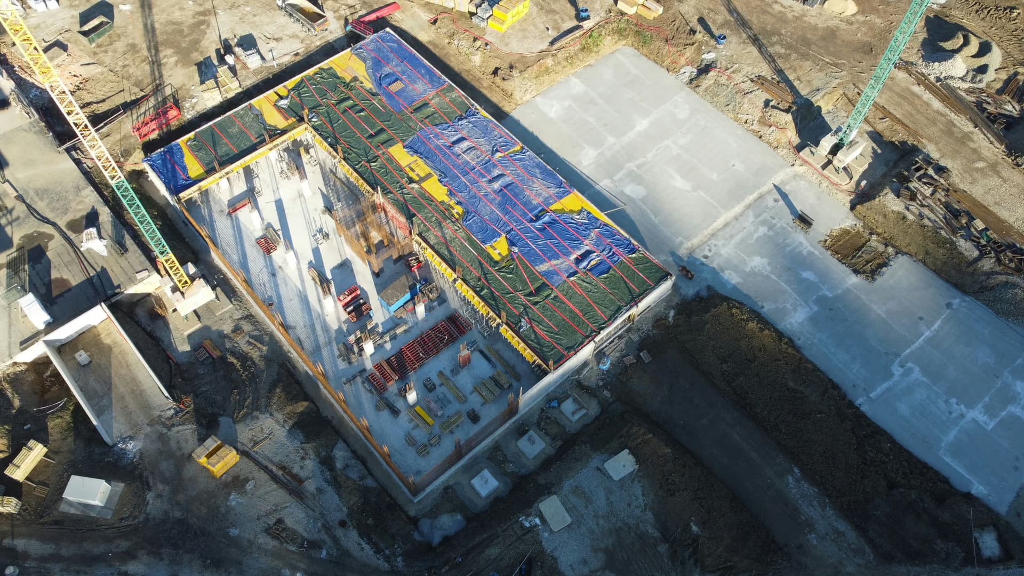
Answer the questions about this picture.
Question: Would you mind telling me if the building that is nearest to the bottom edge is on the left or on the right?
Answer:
left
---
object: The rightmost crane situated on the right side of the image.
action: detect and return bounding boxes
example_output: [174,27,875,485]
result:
[800,0,948,200]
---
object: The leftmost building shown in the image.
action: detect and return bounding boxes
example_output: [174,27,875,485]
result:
[46,468,128,522]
